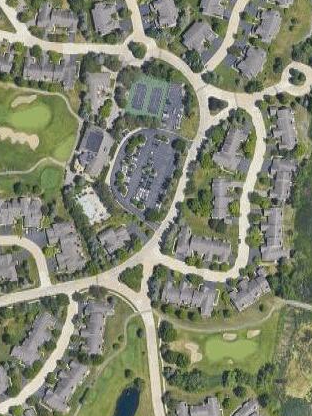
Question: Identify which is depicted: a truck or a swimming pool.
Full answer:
I can see a swimming pool in this picture.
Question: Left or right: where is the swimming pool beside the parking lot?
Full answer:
The swimming pool beside the parking lot appears in the left half of the scene.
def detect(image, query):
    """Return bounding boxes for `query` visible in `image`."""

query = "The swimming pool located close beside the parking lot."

[77,187,111,225]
